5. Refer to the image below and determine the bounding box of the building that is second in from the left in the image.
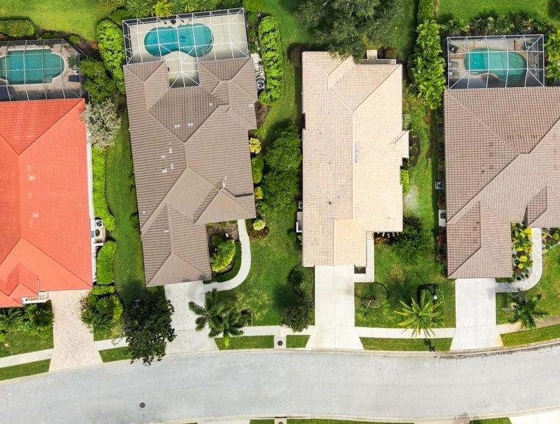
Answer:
[123,56,259,287]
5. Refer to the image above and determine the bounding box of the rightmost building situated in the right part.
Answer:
[443,86,560,279]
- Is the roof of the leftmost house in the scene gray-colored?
No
